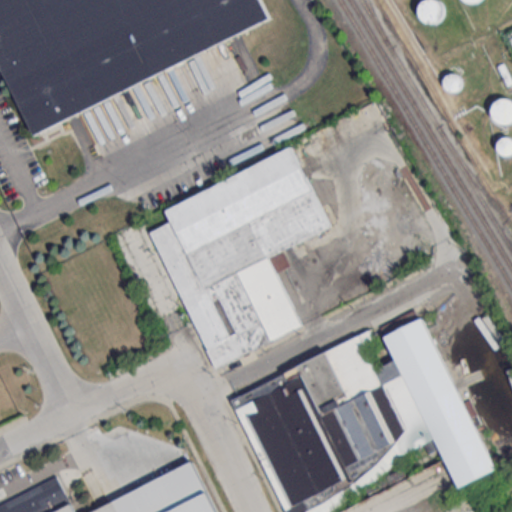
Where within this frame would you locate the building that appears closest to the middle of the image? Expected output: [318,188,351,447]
[149,148,331,368]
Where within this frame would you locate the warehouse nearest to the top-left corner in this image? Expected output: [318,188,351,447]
[0,0,266,134]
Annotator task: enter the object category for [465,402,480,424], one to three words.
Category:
vehicle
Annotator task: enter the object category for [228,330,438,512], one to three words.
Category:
building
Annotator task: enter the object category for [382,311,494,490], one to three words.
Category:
shed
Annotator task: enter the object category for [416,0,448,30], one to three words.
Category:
storage tank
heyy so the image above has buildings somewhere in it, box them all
[90,462,215,512]
[228,330,438,512]
[382,311,494,490]
[0,0,266,134]
[149,148,331,368]
[0,476,74,512]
